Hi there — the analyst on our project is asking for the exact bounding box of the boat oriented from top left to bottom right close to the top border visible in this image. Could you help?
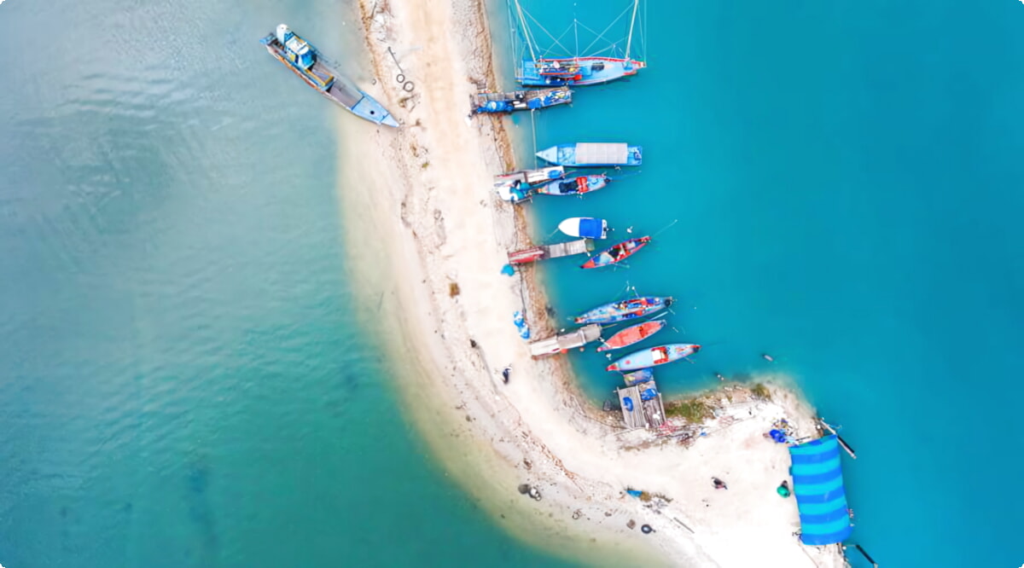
[263,26,399,128]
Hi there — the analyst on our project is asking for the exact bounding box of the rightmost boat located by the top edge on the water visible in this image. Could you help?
[506,0,646,85]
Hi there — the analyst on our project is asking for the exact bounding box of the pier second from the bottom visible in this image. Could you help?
[510,239,588,263]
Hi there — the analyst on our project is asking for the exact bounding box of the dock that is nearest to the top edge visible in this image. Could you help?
[473,85,575,114]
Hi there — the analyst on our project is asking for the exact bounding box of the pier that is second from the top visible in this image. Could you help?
[494,165,565,185]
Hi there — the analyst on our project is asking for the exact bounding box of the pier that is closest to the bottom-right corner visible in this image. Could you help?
[530,323,602,355]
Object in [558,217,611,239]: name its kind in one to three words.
boat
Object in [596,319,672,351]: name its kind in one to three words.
boat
